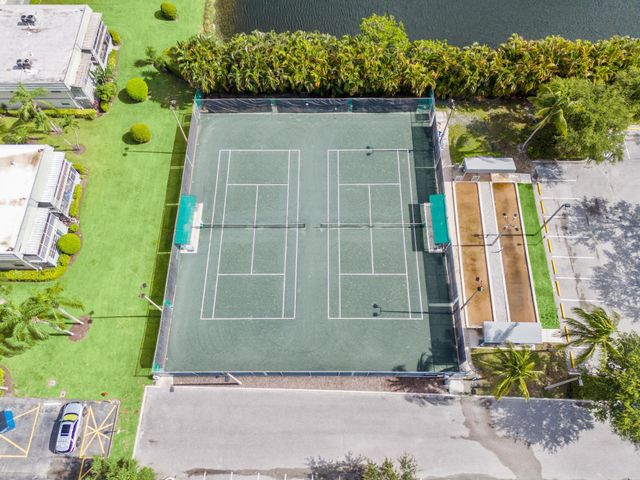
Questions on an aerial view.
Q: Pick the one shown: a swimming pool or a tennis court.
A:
tennis court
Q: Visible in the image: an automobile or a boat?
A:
automobile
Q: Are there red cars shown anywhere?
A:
No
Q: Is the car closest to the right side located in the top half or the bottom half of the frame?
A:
bottom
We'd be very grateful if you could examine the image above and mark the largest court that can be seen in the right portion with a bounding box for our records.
[311,112,461,376]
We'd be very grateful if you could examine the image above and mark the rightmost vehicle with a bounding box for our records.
[52,403,84,452]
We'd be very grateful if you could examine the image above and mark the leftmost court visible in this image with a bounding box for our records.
[166,112,314,375]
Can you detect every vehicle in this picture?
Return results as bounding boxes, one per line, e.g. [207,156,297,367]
[52,403,84,452]
[0,414,16,435]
